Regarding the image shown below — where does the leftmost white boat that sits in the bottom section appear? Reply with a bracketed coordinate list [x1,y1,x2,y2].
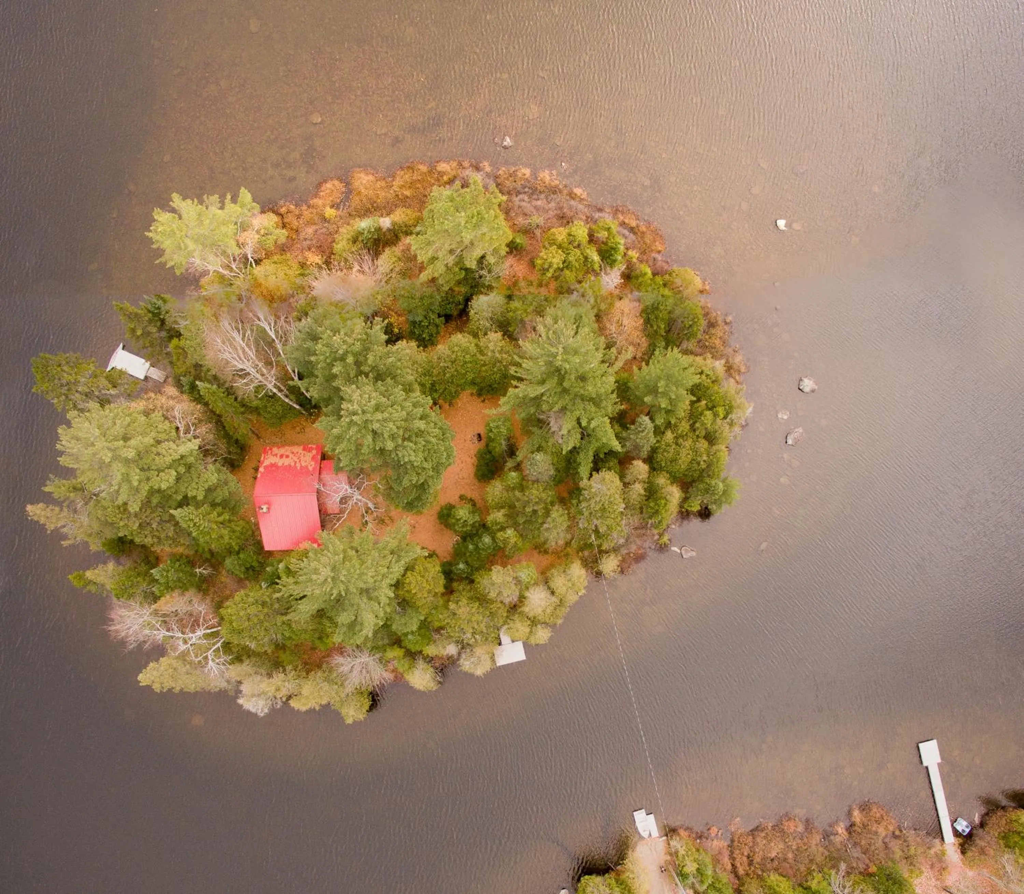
[633,808,650,841]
